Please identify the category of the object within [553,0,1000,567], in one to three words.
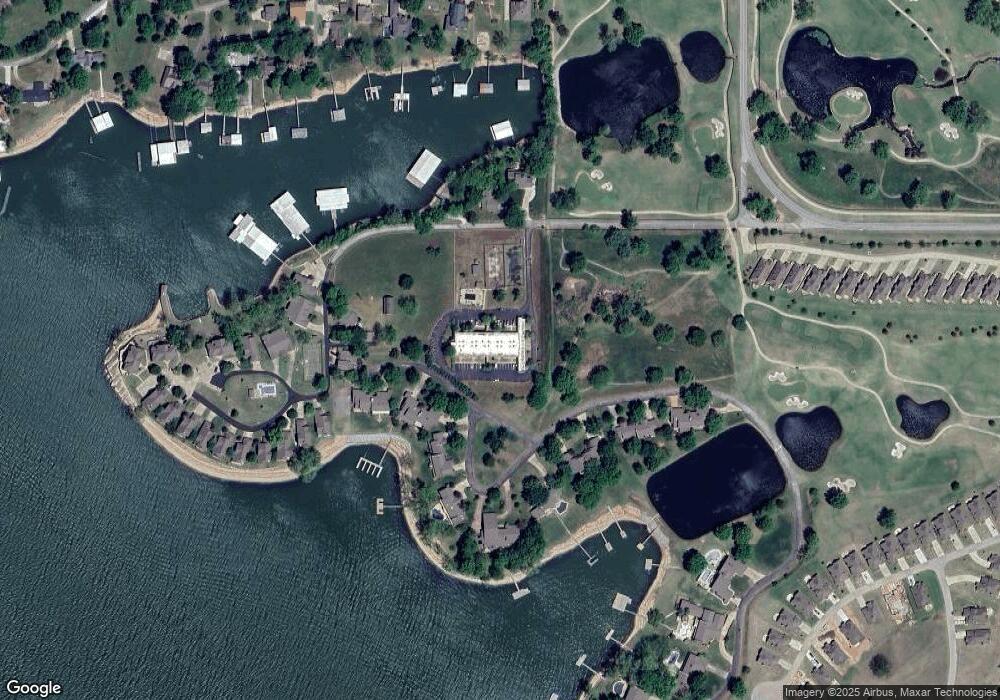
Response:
golf course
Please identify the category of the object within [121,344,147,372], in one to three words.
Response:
house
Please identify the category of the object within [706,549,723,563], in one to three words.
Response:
swimming pool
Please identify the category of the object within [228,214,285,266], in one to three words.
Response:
pier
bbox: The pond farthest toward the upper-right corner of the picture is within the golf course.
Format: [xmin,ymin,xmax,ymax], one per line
[783,27,917,139]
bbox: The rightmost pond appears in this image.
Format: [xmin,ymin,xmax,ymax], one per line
[896,395,950,439]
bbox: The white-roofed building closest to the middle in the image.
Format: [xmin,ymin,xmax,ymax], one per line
[450,317,525,372]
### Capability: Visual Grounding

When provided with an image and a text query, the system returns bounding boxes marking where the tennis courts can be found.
[504,245,522,285]
[484,245,503,286]
[304,345,322,381]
